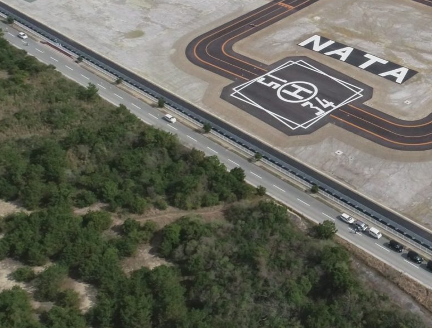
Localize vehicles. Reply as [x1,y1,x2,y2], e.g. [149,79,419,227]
[18,32,27,38]
[388,238,405,251]
[426,259,432,270]
[406,248,423,262]
[354,218,369,230]
[339,210,355,222]
[367,224,383,238]
[164,114,175,123]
